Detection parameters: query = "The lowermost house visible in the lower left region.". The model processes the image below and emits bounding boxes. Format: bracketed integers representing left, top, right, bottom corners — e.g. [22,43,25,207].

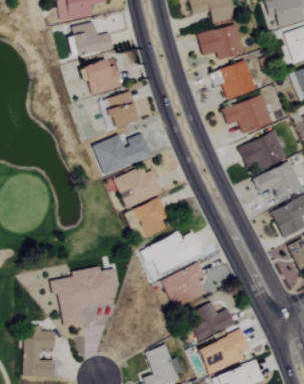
[24,330,56,376]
